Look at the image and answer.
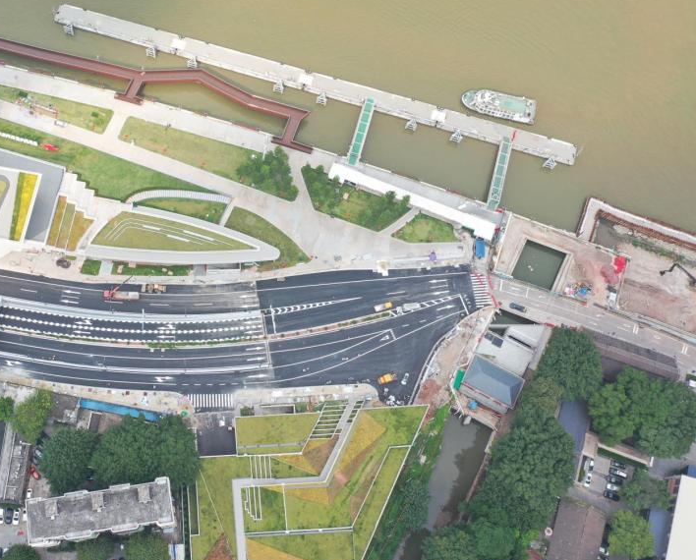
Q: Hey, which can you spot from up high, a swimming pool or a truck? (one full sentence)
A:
I can see a truck in this picture.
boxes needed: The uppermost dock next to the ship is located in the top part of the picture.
[304,73,438,128]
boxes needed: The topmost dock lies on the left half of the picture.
[55,4,184,57]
